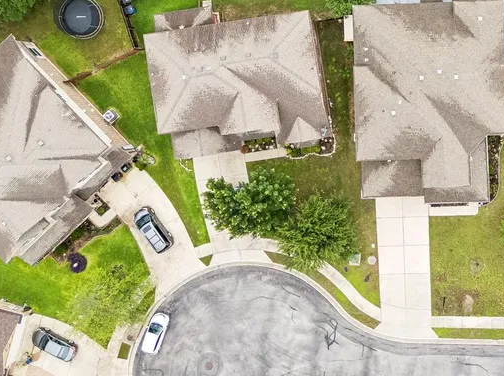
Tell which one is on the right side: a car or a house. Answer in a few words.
house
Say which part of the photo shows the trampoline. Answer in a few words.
top left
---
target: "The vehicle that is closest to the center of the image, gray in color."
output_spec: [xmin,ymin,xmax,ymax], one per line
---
[131,205,176,256]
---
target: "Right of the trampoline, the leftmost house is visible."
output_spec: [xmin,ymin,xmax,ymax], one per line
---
[143,0,330,160]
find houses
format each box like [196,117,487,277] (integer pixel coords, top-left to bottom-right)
[0,298,39,376]
[0,35,142,266]
[343,0,504,205]
[143,0,330,160]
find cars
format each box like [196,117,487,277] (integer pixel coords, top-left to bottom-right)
[137,311,171,356]
[31,329,78,363]
[131,205,176,256]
